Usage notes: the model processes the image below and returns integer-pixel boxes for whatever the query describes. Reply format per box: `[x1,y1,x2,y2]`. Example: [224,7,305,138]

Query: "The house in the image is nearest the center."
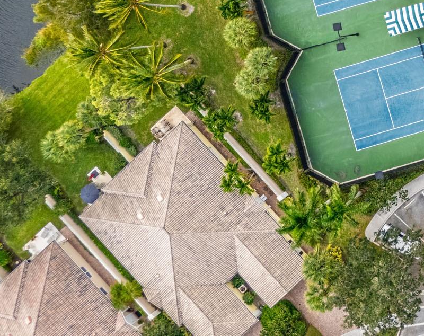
[78,121,308,336]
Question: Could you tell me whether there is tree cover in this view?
Yes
